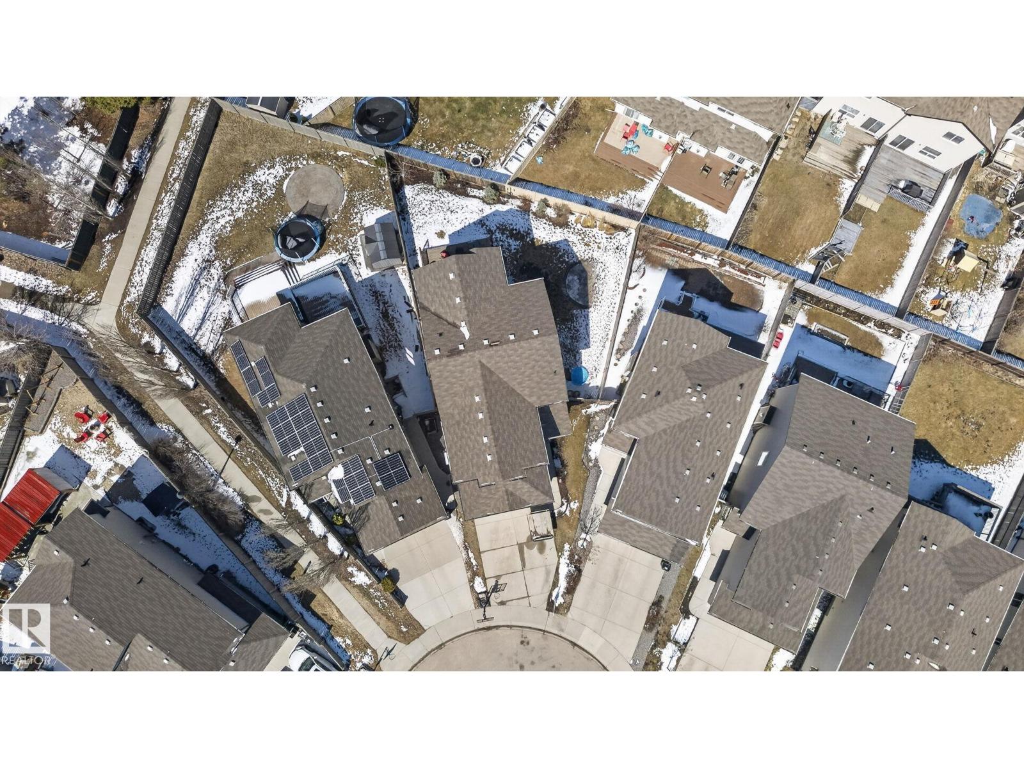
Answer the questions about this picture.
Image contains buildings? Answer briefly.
Yes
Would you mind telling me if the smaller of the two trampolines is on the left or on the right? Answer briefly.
left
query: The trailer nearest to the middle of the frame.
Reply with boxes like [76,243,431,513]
[527,509,554,541]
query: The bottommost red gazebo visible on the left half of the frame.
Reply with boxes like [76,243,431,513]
[0,503,41,562]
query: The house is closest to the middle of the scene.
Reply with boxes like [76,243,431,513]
[412,246,574,520]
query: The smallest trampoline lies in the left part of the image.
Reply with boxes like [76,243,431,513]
[269,205,326,266]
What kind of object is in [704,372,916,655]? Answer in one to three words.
house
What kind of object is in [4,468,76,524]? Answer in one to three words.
gazebo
